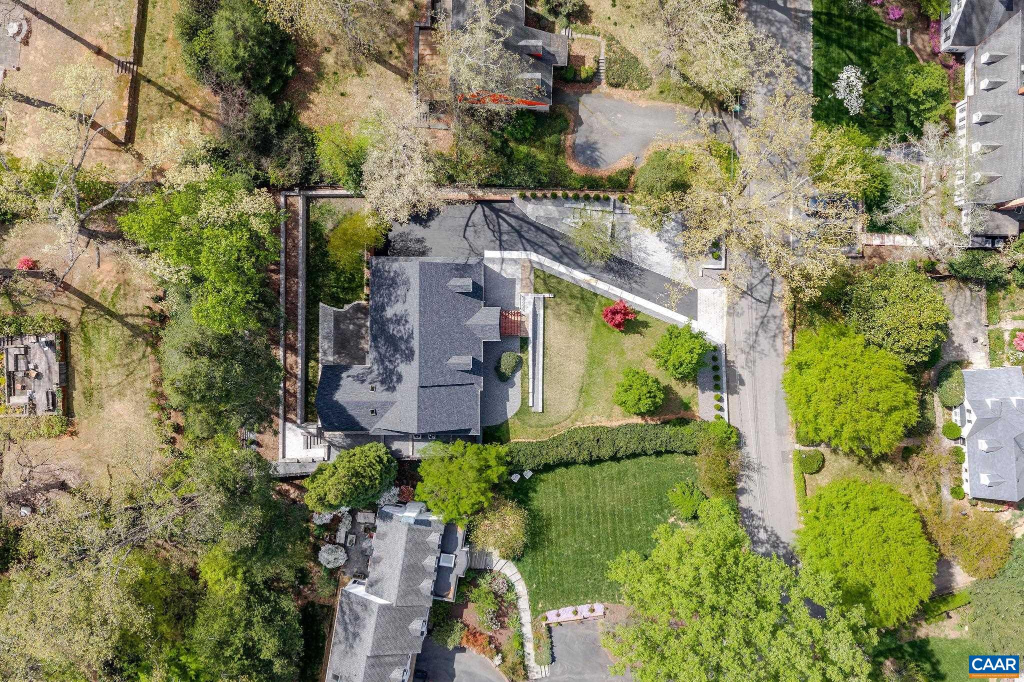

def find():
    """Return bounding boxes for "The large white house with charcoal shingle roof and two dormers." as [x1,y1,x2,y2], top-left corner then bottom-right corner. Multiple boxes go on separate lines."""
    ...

[315,257,500,437]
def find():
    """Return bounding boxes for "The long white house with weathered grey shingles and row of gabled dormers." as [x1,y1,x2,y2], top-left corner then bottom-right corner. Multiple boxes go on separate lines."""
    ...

[324,499,472,682]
